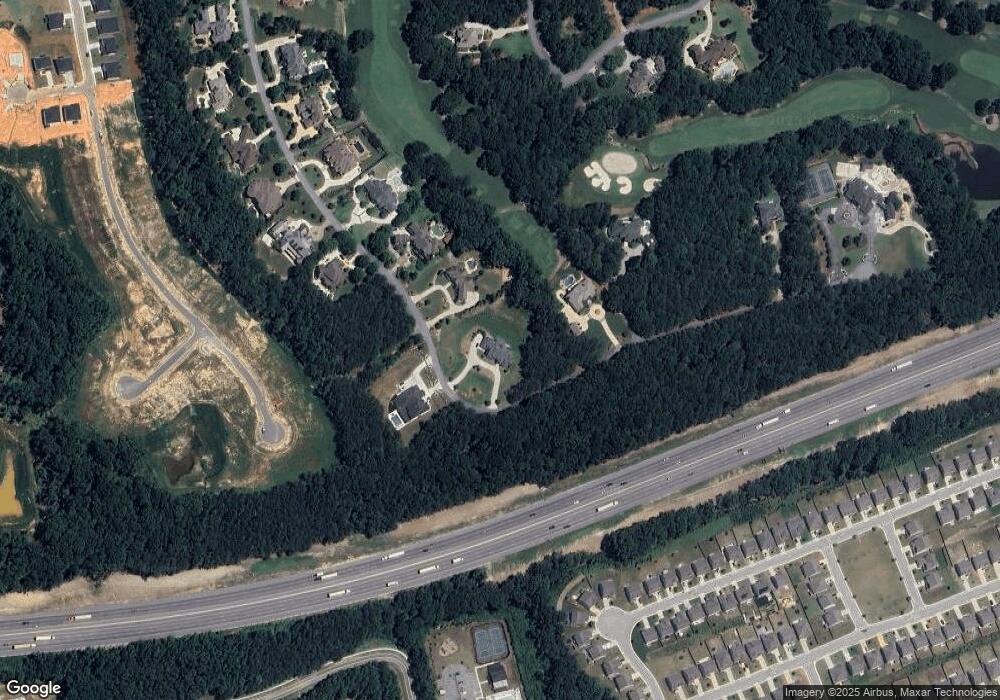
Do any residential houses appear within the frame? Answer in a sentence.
Yes, you can see a residential house in this photo.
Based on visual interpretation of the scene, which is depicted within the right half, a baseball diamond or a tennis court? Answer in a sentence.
Visible within the right half is a tennis court.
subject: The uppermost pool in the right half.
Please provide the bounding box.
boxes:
[720,62,734,78]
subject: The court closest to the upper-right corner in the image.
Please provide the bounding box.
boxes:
[806,163,838,201]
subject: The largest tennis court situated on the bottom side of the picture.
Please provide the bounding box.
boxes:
[473,622,510,663]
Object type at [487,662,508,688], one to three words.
building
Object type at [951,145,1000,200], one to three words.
pond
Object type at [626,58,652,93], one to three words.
house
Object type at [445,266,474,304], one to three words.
house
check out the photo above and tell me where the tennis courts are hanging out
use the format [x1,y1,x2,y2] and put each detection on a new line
[806,163,838,201]
[473,622,510,663]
